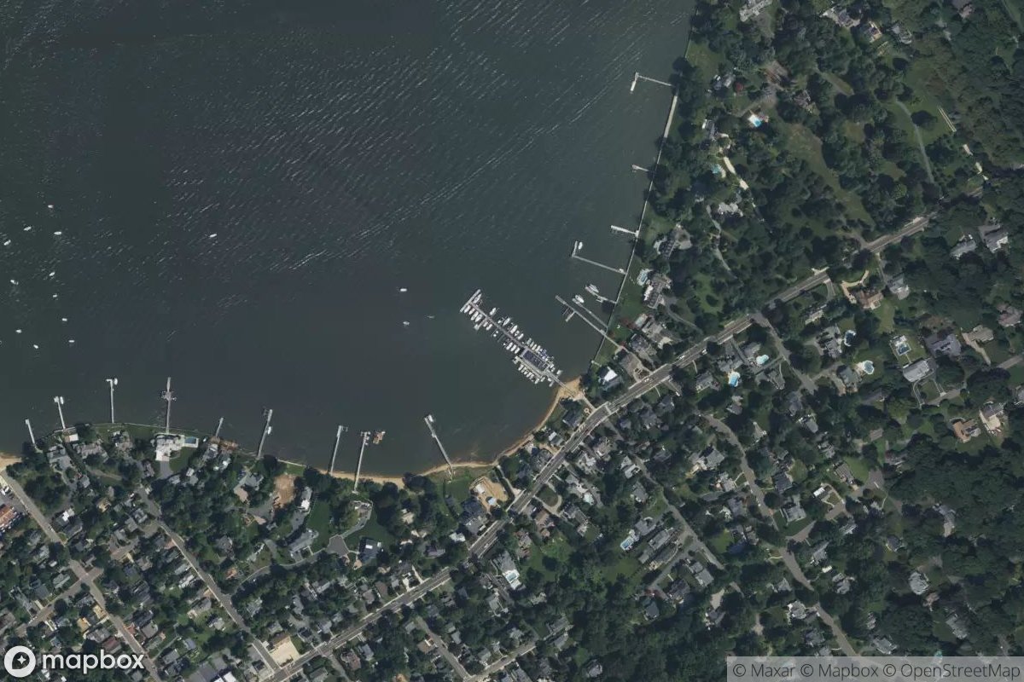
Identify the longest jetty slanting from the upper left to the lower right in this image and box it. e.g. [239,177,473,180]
[460,290,576,398]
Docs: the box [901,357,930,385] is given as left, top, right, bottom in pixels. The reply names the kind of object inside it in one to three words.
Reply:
house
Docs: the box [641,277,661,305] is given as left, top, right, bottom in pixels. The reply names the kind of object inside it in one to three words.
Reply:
house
